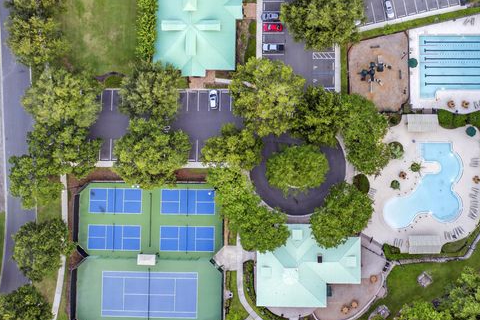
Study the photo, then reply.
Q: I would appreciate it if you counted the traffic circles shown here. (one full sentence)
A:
There are no traffic circles in this view.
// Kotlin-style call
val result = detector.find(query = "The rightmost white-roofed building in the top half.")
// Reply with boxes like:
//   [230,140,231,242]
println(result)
[406,114,439,132]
